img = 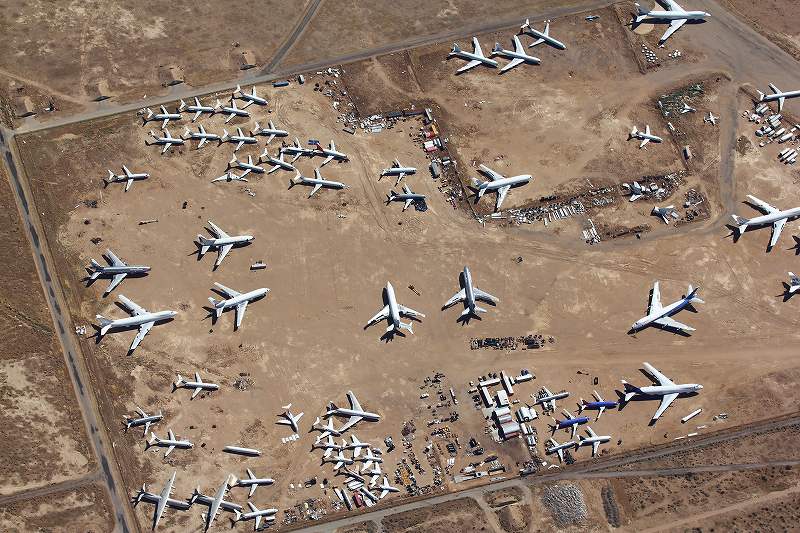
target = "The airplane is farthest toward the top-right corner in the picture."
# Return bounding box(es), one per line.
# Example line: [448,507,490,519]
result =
[761,84,800,113]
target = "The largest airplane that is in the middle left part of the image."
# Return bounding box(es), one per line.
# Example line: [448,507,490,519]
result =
[98,295,178,350]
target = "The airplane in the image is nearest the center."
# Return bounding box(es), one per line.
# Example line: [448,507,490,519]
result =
[368,281,424,330]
